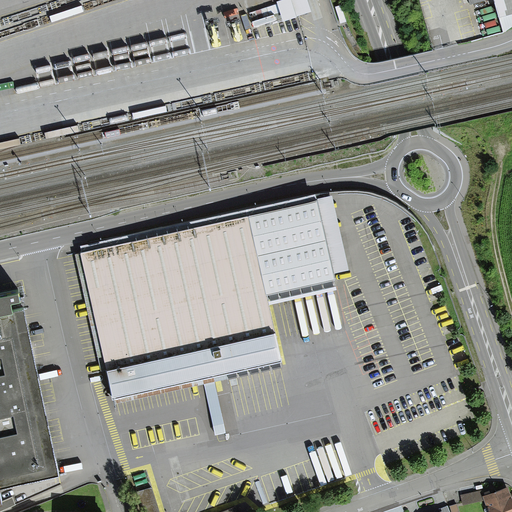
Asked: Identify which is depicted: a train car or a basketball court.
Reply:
train car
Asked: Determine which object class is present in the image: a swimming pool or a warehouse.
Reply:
warehouse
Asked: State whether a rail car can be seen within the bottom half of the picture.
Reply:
No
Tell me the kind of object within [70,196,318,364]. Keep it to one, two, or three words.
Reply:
warehouse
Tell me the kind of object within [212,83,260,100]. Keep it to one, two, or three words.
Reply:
rail car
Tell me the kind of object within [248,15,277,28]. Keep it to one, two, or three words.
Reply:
vehicle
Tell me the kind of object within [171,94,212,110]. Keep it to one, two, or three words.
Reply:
rail car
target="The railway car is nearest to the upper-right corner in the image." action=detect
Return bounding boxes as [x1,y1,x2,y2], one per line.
[260,72,310,88]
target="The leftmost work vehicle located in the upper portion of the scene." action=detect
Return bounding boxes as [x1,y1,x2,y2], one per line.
[205,19,222,46]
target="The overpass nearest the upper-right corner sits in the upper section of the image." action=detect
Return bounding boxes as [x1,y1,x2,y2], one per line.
[352,28,512,84]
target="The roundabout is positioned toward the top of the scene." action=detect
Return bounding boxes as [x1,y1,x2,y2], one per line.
[378,130,469,218]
